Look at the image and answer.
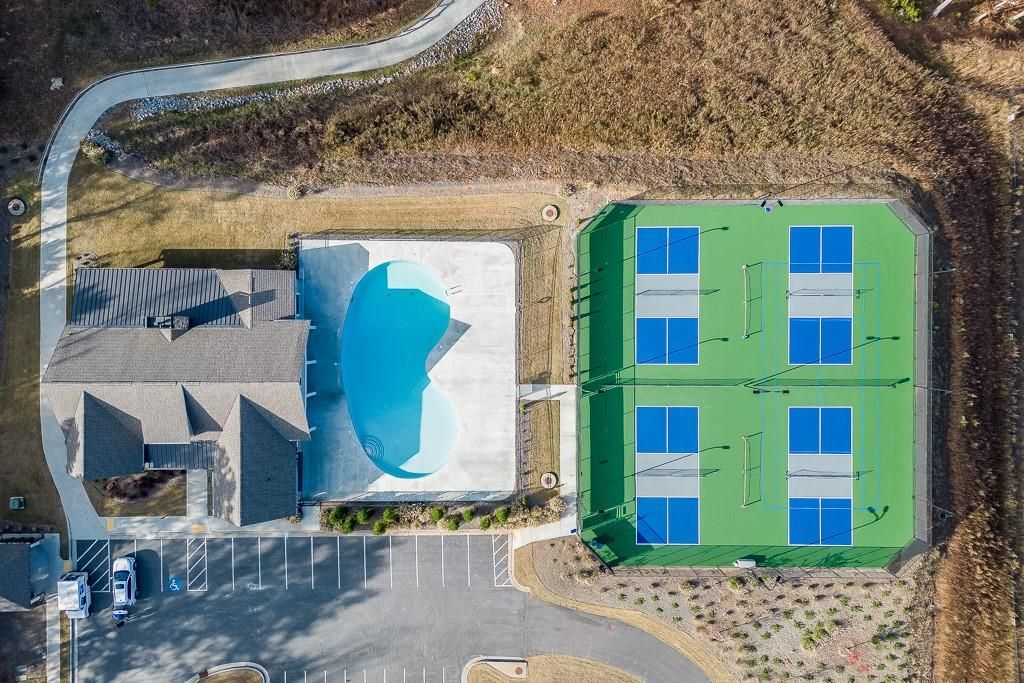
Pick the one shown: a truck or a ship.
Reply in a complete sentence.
It is a truck that can be seen here.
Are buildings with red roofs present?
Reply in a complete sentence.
No, the photo shows no building with a red roof.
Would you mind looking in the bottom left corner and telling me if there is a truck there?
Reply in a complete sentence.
Yes, in the bottom left corner there is a truck.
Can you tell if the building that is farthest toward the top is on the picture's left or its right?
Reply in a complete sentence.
It is on the left.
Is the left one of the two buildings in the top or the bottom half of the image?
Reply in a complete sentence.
The bottom half of the photo is where the left one of the two buildings is.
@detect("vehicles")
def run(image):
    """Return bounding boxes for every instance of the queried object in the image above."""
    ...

[109,555,137,613]
[58,570,93,619]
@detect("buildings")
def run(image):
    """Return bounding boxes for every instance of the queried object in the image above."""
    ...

[40,268,318,527]
[0,538,49,611]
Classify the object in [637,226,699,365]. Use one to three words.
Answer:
sports court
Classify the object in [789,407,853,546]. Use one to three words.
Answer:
sports court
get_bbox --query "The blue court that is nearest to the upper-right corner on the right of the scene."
[790,225,853,365]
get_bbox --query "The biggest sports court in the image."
[580,197,915,568]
